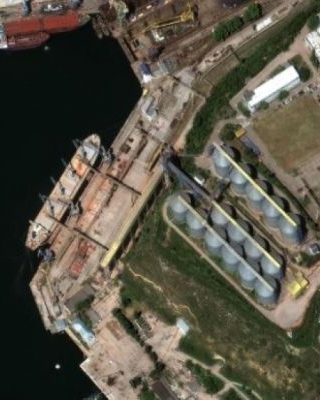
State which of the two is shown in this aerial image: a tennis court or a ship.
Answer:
ship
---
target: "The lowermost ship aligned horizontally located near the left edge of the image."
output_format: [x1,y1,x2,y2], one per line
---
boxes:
[0,31,52,50]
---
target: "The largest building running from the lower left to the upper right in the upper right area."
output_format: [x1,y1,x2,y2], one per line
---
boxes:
[253,65,299,102]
